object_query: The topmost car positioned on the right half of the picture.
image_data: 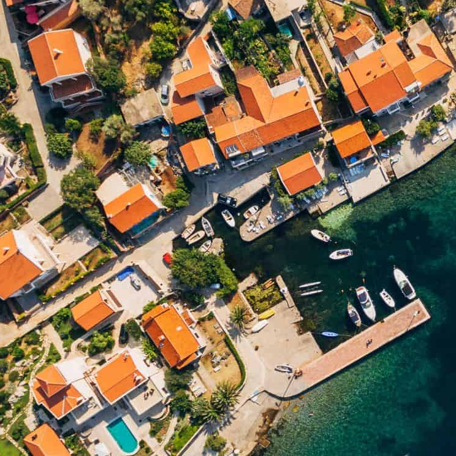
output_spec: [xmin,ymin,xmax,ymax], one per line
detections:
[401,99,415,111]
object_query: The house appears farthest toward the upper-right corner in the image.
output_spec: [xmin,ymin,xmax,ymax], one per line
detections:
[407,18,451,91]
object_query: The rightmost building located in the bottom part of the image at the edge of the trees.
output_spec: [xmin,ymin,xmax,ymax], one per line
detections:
[141,302,208,369]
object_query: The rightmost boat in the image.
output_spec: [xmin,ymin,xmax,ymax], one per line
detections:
[394,269,416,300]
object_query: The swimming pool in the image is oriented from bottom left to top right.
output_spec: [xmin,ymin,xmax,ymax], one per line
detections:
[129,212,164,240]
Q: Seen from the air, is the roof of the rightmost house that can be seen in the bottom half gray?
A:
No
